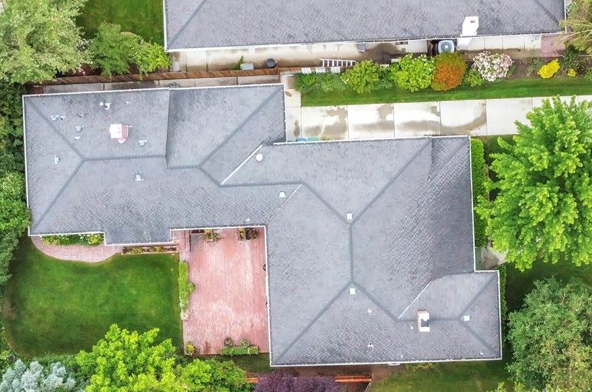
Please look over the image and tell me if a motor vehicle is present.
No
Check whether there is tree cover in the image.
Yes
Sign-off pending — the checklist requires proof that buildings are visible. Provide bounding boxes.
[21,81,504,367]
[162,0,567,54]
